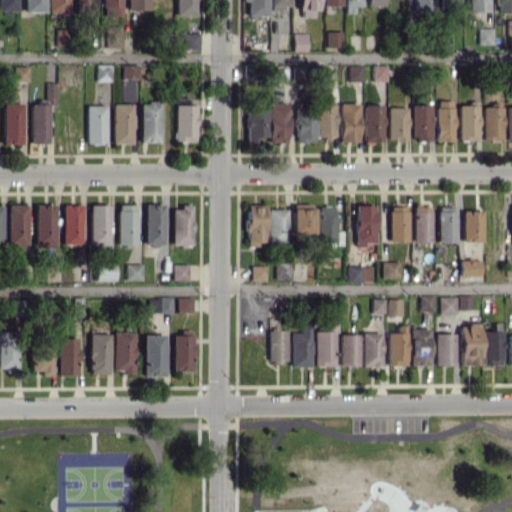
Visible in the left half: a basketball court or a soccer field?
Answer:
basketball court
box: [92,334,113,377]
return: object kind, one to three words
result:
house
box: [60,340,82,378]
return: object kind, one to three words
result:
house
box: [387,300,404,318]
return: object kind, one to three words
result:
building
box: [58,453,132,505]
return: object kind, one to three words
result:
basketball court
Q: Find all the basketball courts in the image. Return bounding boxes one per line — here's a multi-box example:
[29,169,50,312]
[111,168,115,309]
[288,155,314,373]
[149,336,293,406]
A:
[58,505,132,512]
[58,453,132,505]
